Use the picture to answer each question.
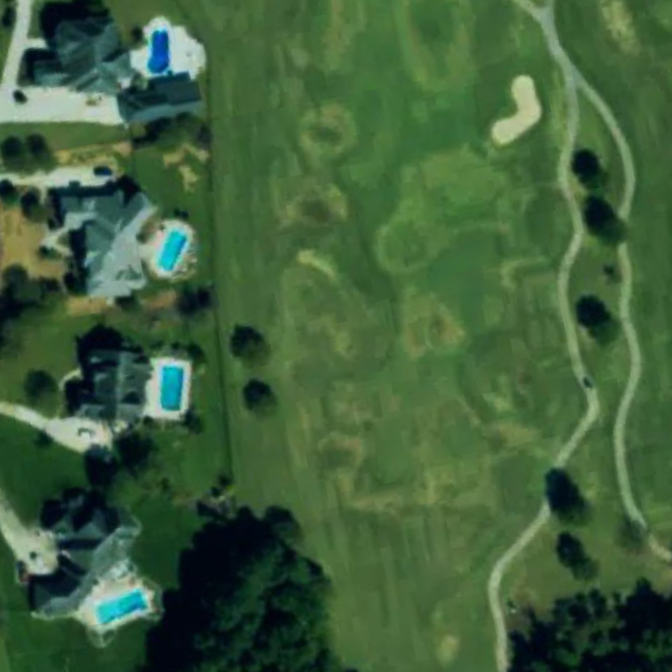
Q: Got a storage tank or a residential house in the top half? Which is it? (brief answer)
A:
residential house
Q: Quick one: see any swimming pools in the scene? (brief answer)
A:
Yes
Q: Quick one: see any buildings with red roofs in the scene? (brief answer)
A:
No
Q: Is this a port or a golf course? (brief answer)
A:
golf course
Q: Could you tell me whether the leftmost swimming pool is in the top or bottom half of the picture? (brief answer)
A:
bottom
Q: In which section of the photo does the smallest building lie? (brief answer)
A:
top left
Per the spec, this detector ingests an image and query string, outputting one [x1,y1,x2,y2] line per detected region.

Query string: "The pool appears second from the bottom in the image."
[144,359,191,420]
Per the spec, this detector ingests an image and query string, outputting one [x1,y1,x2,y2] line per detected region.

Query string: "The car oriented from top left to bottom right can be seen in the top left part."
[14,88,27,104]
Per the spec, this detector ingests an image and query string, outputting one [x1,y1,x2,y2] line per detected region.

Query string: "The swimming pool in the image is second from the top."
[141,219,195,280]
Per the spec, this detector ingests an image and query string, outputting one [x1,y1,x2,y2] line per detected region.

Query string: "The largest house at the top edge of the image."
[27,6,135,102]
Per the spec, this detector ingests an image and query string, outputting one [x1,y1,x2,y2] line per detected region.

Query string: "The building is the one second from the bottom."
[64,348,149,423]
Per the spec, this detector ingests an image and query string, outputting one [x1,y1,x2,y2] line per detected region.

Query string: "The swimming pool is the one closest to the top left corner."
[135,17,207,81]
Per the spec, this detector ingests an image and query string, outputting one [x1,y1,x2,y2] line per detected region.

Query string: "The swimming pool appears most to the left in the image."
[75,576,159,629]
